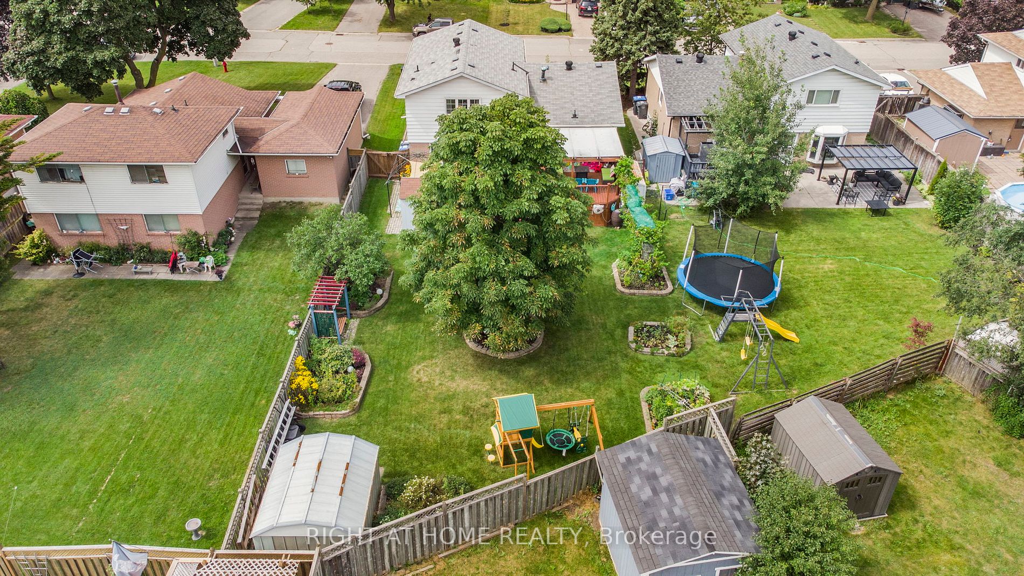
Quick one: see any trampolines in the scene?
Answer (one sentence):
Yes, the photo shows a trampoline.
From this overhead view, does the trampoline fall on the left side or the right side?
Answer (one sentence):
The trampoline sits on the right side.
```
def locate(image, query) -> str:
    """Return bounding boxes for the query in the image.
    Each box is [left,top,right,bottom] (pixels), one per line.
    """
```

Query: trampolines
[677,217,784,320]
